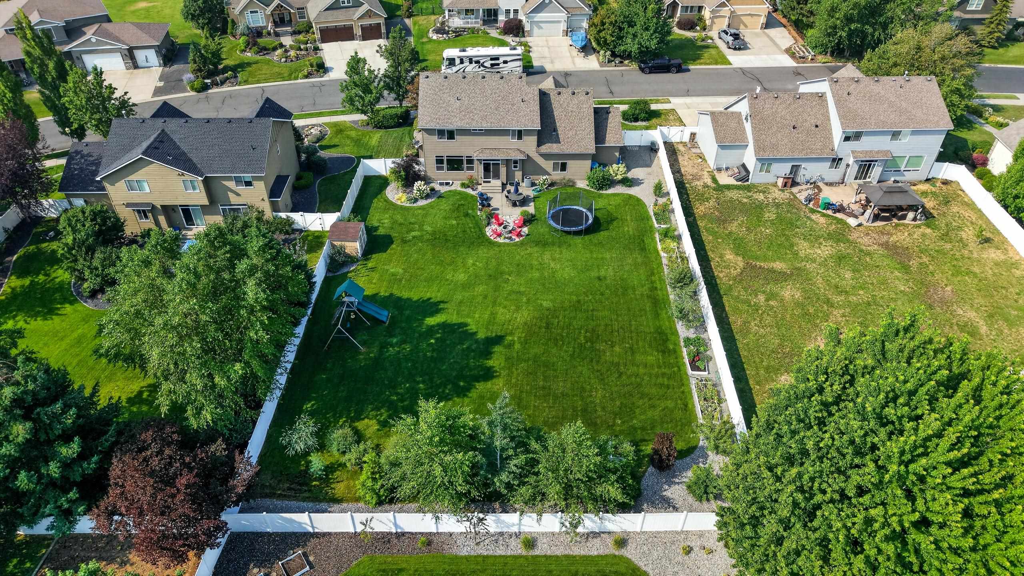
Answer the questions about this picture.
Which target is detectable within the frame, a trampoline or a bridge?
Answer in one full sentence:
The image shows a trampoline.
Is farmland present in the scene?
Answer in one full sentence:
No, there's no farmland in this view.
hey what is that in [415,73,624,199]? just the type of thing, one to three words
house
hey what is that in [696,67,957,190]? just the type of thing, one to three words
house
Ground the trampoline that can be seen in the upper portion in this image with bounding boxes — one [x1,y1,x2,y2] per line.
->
[542,190,596,241]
